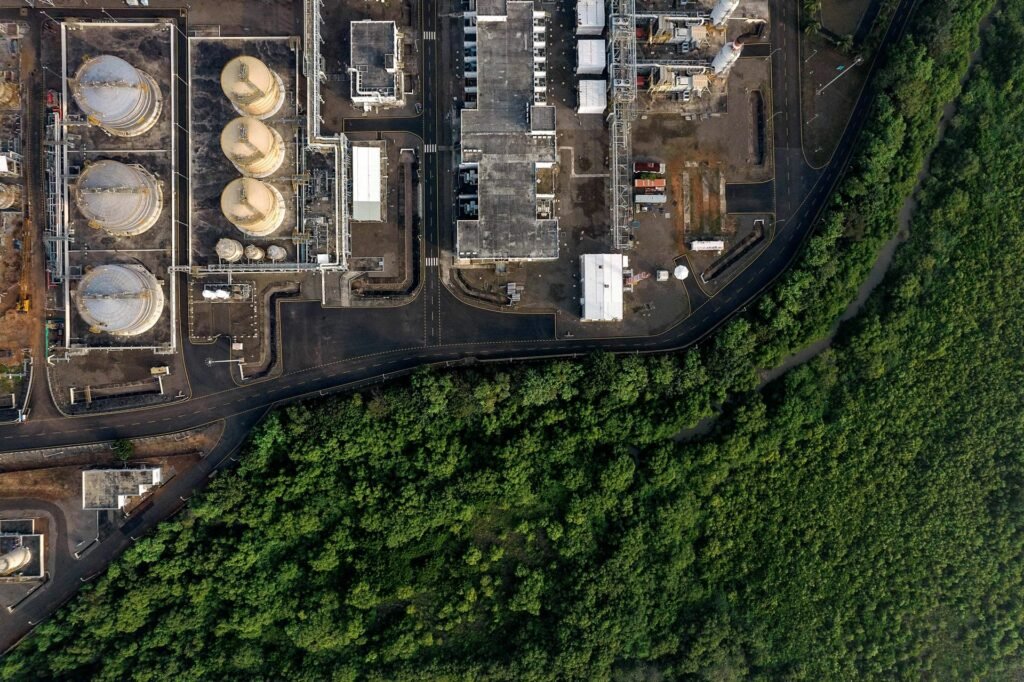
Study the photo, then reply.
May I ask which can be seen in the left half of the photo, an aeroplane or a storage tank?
storage tank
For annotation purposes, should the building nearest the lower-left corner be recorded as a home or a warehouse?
home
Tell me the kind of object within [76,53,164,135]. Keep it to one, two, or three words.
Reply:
storage tank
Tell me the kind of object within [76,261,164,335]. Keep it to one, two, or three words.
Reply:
storage tank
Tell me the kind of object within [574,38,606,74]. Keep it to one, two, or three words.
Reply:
hangar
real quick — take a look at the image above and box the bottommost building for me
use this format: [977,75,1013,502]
[83,454,160,509]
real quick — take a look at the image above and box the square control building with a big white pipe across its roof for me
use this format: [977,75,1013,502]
[343,21,404,117]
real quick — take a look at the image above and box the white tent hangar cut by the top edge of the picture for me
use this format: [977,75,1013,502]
[574,0,605,36]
